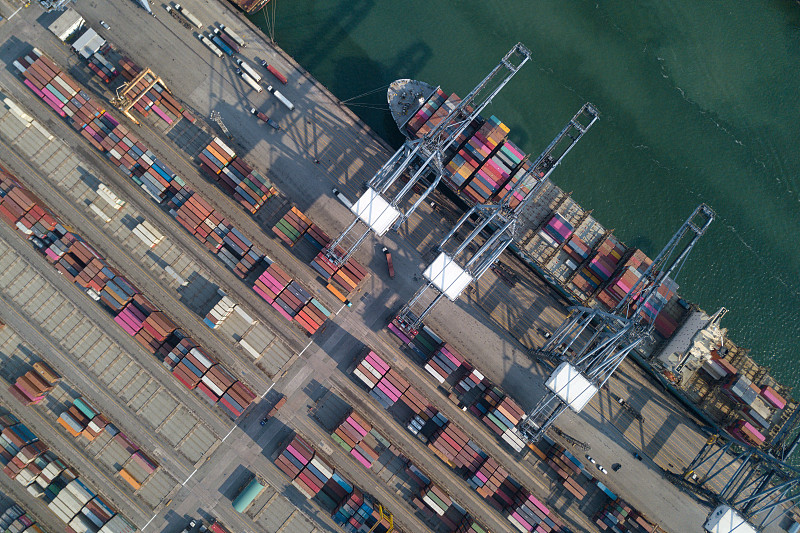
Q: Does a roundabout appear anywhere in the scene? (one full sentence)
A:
No, the photo shows no roundabout.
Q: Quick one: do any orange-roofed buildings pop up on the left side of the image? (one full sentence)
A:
No, there is no orange-roofed building on the left side of the image.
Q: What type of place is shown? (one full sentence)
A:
This looks like a port.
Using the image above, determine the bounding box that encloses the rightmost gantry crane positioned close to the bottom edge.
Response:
[652,405,800,533]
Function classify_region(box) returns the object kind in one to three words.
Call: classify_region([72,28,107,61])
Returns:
shed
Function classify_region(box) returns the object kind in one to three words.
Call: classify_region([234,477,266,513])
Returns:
shed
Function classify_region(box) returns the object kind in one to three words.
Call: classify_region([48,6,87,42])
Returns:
building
